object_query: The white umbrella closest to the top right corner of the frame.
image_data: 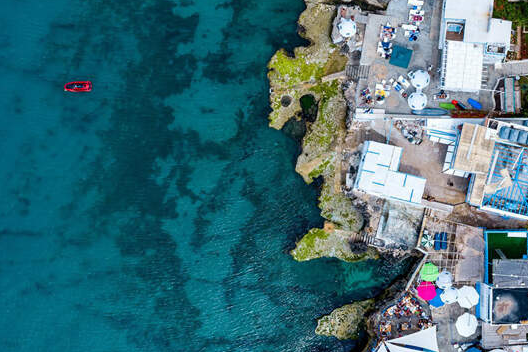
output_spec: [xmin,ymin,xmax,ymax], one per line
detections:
[409,68,429,89]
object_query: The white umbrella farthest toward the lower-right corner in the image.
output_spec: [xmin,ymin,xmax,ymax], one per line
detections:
[456,313,477,335]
